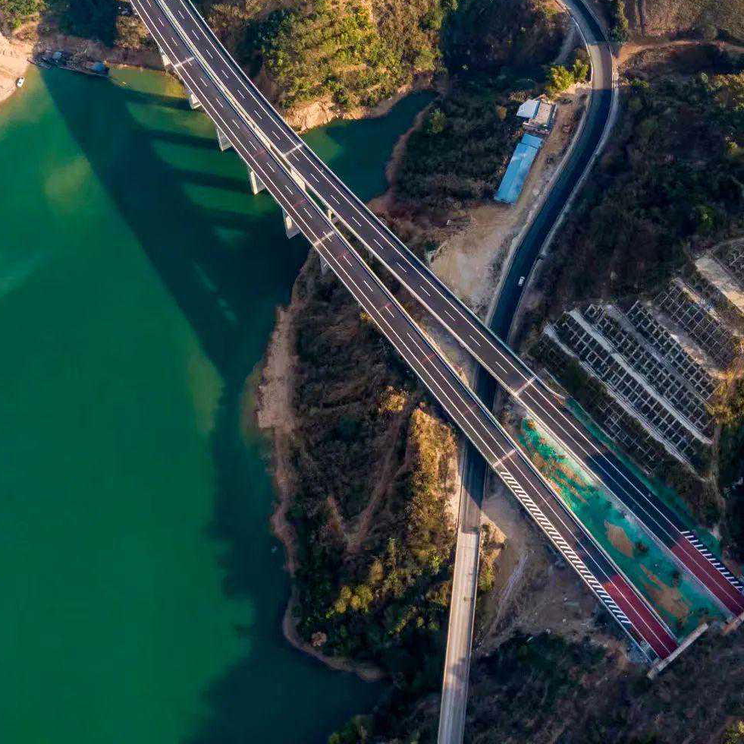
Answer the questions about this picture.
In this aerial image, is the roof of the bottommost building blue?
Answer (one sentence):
Yes, the roof of the bottommost building appears blue.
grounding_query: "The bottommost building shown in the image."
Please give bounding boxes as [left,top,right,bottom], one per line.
[496,135,540,202]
